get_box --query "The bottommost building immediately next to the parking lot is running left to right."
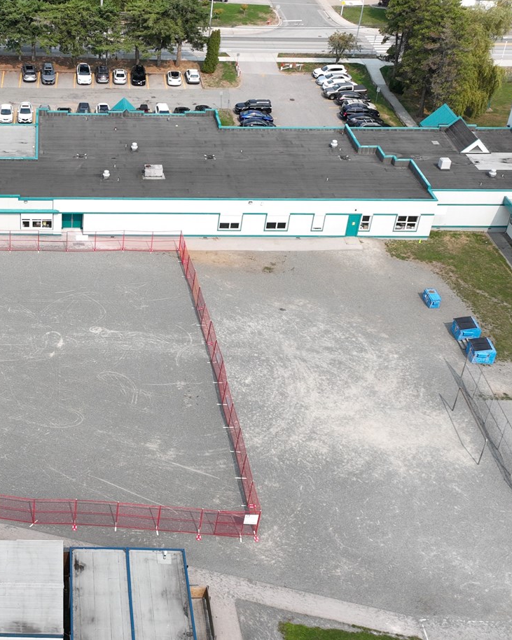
[0,90,512,243]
